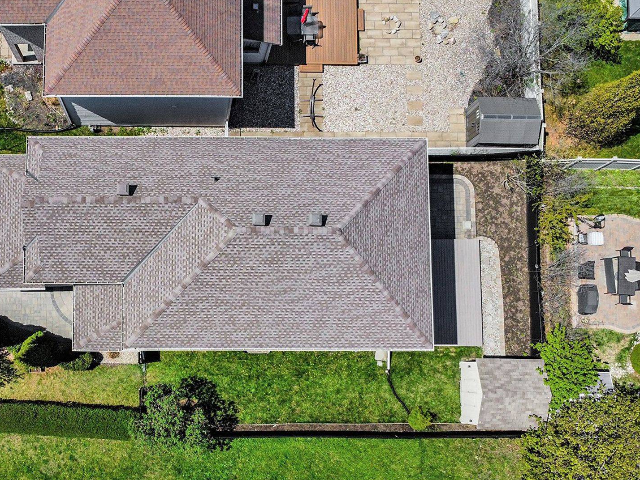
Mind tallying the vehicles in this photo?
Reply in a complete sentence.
Not a single vehicle can be seen.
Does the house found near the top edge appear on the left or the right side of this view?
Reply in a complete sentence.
The house found near the top edge appears in the left half of the scene.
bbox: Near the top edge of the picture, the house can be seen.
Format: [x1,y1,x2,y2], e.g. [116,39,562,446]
[0,0,284,126]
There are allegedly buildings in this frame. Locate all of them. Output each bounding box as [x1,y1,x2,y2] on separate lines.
[0,0,284,126]
[465,97,544,150]
[0,135,436,370]
[460,358,554,430]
